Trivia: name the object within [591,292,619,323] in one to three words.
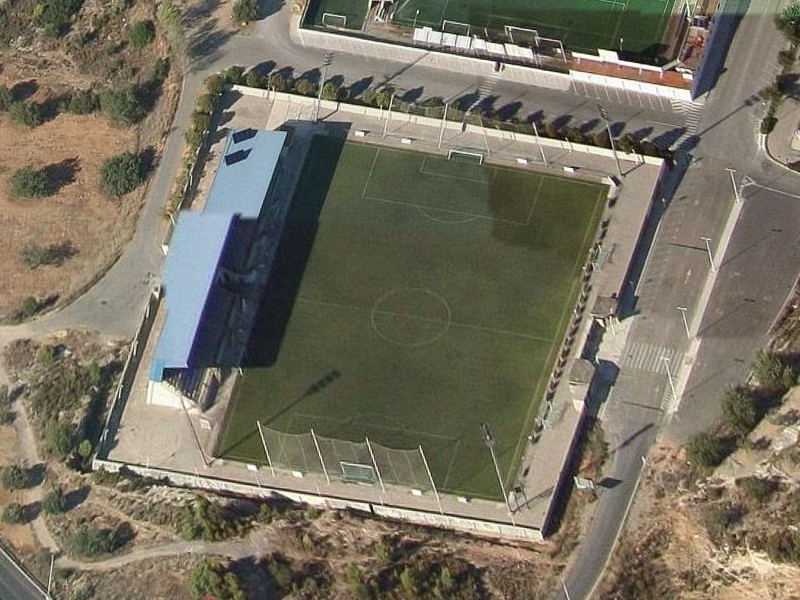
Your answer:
shed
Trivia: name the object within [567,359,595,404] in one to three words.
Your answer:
shed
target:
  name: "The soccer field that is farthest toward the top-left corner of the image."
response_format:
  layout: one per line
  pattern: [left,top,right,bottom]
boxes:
[303,0,368,33]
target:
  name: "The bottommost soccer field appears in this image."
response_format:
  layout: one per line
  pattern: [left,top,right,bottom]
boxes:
[213,135,616,503]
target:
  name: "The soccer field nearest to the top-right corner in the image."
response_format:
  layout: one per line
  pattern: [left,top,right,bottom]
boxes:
[393,0,688,70]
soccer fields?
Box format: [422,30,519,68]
[303,0,368,33]
[393,0,688,70]
[213,135,616,503]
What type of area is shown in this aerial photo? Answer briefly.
sports ground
